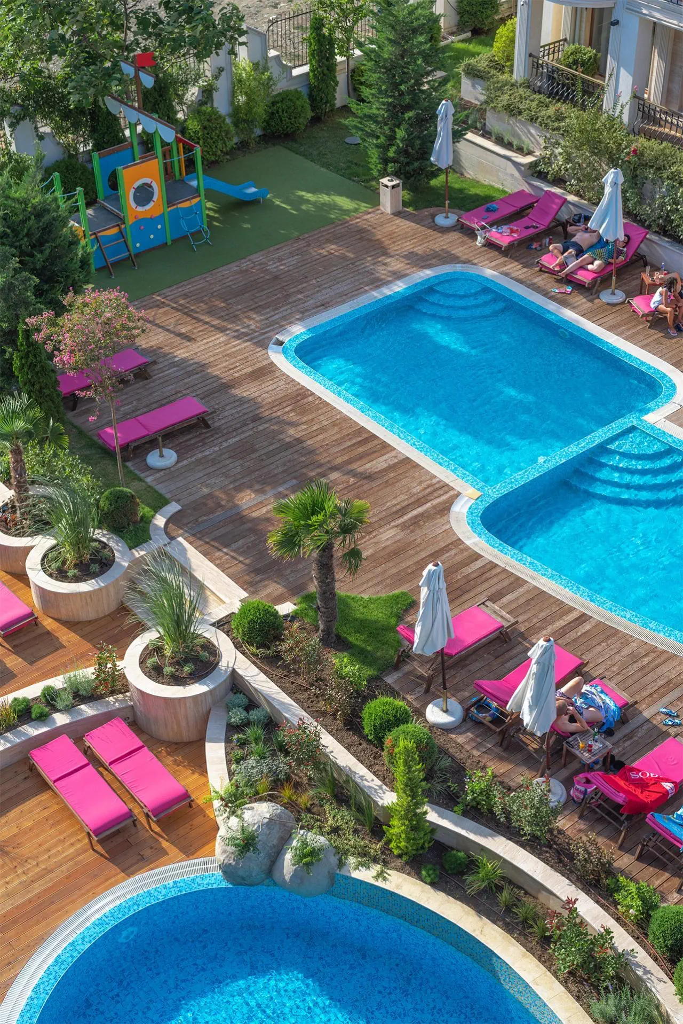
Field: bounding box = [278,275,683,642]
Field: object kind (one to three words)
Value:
swimming pool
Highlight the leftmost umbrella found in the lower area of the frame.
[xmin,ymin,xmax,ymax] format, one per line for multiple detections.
[407,558,462,727]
